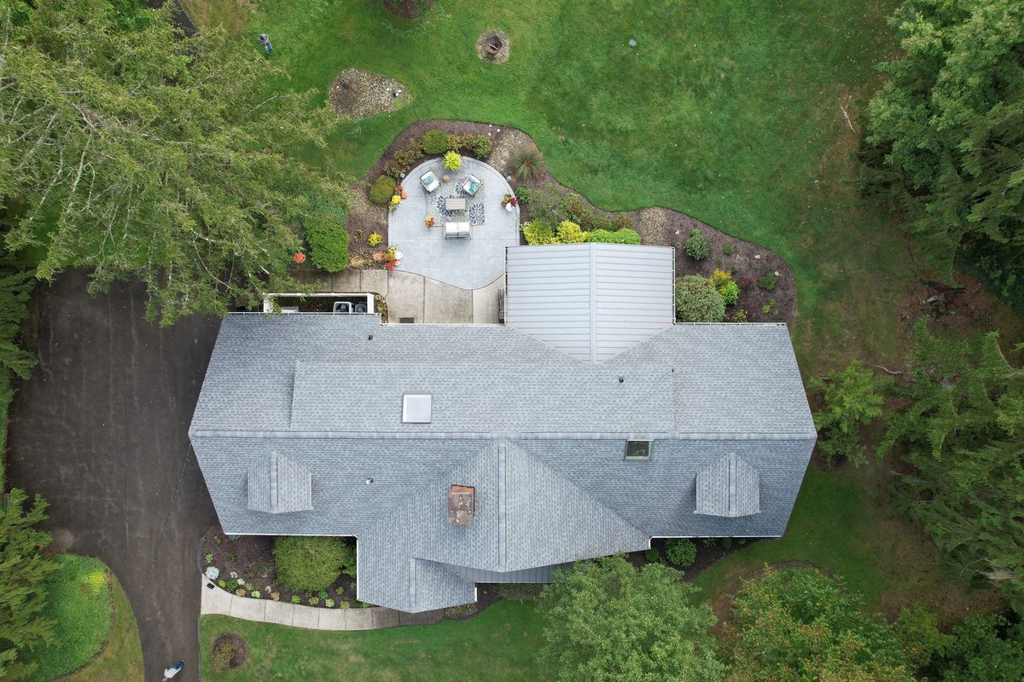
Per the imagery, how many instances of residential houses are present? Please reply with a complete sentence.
In total, 1 residential house can be seen.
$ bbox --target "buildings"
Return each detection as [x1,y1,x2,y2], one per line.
[190,242,816,613]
